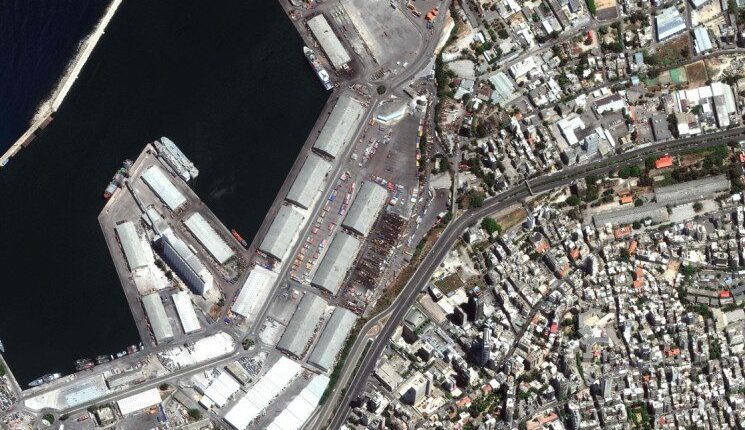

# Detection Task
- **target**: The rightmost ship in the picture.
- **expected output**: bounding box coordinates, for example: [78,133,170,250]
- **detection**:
[304,45,335,91]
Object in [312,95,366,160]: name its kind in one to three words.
building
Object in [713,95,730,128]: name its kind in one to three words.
shed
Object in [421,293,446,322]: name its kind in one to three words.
building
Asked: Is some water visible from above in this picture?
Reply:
Yes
